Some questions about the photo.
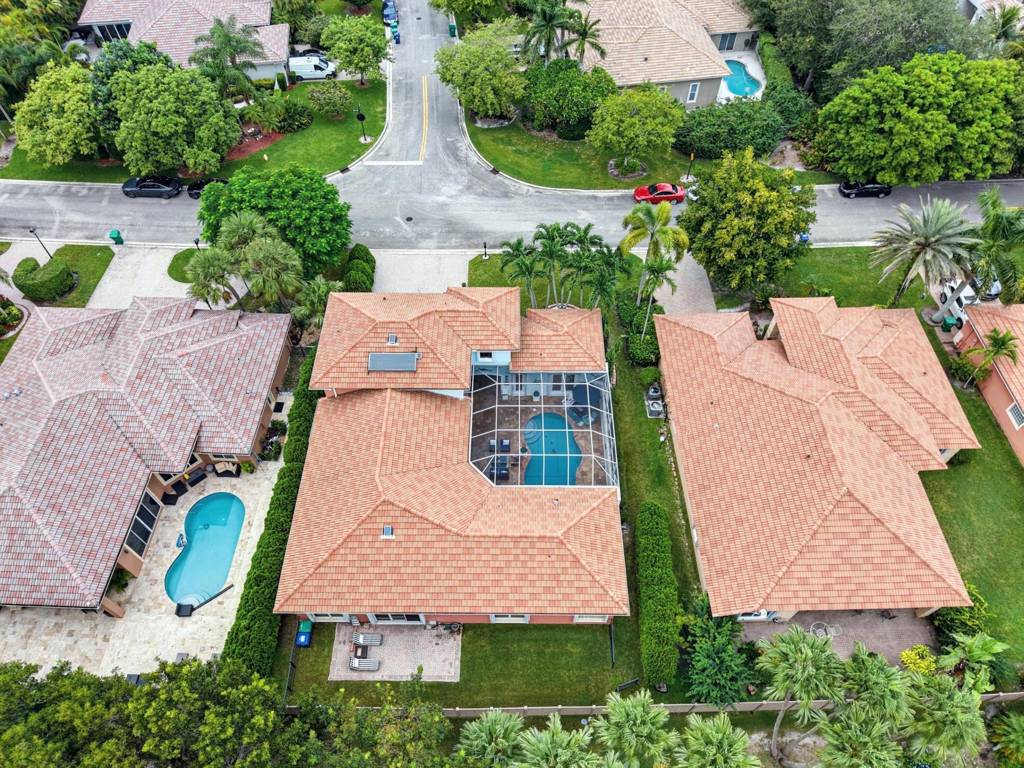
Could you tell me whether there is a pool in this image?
Yes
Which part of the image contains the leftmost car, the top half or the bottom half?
top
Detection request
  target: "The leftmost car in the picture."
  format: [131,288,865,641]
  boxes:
[120,175,177,198]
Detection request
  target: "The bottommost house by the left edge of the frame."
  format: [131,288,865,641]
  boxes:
[0,294,292,619]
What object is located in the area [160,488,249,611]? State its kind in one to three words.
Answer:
swimming pool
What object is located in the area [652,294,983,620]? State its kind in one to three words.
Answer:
house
